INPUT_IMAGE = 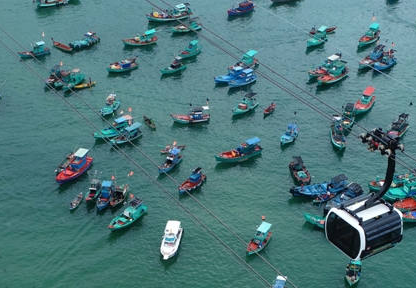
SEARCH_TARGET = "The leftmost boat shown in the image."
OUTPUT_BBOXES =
[18,40,51,59]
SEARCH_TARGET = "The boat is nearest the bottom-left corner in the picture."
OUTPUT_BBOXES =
[70,192,83,210]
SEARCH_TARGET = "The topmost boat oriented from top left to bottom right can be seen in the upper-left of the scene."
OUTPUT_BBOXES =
[51,37,72,53]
